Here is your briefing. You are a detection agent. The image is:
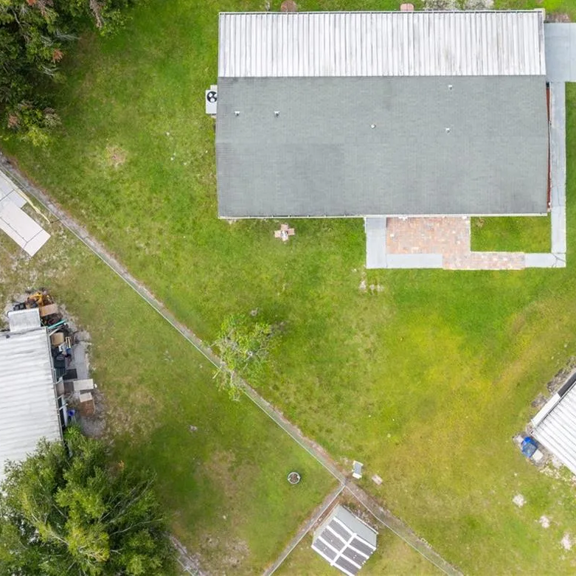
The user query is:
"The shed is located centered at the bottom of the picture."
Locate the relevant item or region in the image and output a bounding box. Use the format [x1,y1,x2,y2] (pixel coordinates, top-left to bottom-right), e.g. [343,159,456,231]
[311,502,381,576]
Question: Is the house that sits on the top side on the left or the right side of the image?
right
